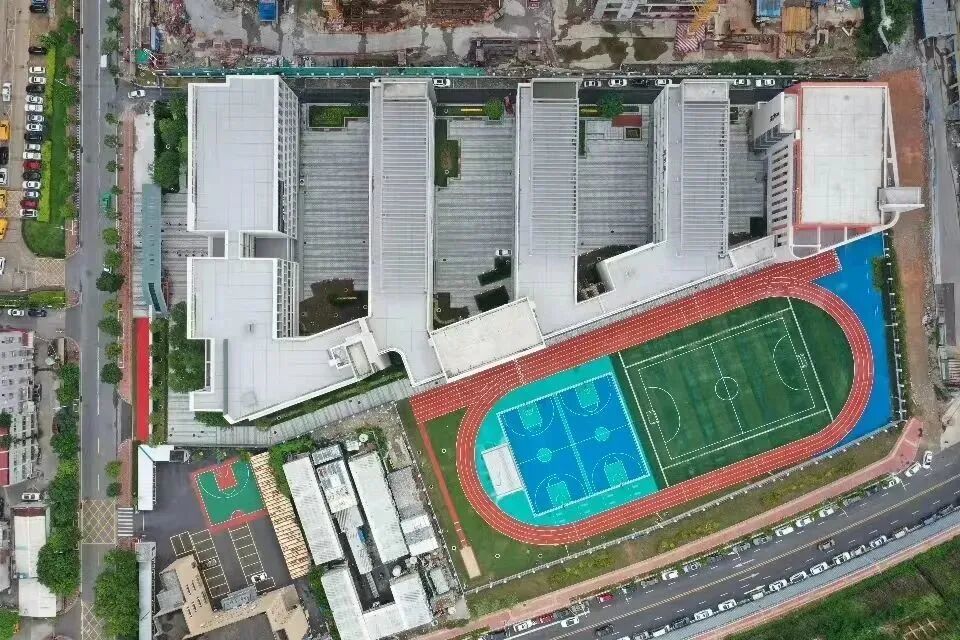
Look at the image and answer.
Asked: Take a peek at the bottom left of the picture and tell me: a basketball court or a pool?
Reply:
basketball court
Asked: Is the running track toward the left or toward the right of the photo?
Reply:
right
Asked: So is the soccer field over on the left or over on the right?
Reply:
right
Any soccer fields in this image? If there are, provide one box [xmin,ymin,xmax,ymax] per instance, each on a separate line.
[617,297,855,488]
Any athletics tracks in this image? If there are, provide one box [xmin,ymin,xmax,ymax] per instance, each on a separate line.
[409,247,875,545]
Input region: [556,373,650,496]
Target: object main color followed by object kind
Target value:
blue basketball court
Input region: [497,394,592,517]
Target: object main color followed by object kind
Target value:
blue basketball court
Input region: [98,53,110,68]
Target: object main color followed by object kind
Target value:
white vehicle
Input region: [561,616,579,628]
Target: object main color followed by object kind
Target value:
white vehicle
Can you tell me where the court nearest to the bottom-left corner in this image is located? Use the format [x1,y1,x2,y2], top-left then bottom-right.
[189,459,268,534]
